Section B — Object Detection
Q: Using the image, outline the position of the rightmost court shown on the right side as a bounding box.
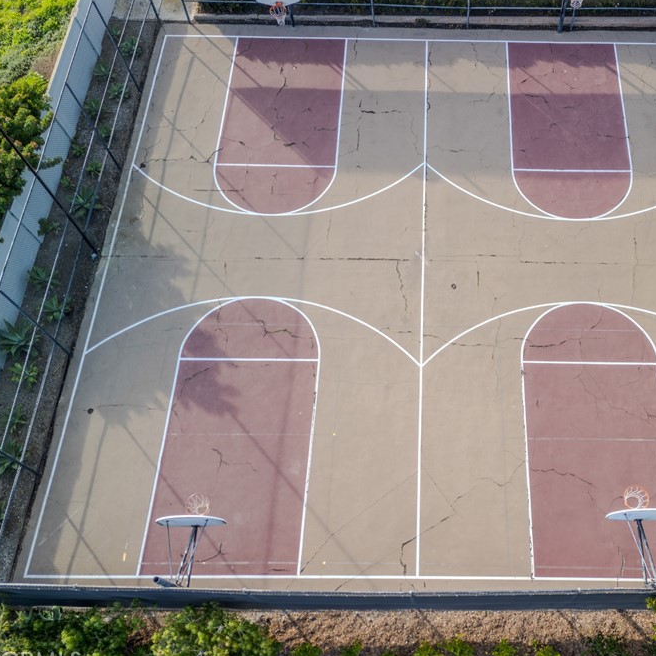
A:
[416,28,656,597]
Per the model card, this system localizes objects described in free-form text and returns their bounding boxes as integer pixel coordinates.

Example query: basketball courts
[416,28,656,597]
[4,23,428,596]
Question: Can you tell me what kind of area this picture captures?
sports ground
